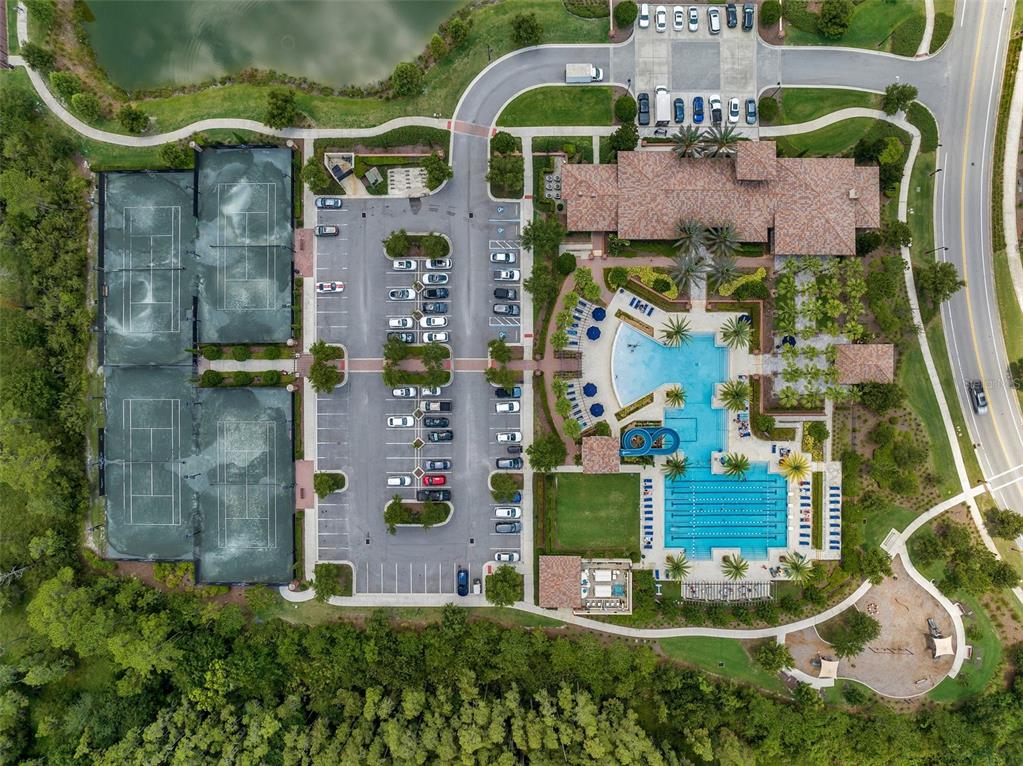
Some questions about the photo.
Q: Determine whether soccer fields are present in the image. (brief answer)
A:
No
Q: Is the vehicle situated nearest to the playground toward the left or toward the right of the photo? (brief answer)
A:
right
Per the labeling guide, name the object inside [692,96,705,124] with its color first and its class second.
blue vehicle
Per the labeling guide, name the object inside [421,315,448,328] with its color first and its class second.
white vehicle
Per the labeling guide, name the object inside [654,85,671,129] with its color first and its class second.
white vehicle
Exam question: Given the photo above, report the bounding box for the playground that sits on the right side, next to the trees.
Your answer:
[785,549,956,697]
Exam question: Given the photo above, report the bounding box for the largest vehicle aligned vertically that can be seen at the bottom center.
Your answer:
[456,568,469,594]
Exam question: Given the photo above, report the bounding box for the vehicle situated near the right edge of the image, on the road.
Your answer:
[968,381,989,415]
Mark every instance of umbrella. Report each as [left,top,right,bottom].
[780,334,794,346]
[582,383,597,397]
[591,306,606,322]
[737,312,751,326]
[589,402,604,417]
[585,325,601,340]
